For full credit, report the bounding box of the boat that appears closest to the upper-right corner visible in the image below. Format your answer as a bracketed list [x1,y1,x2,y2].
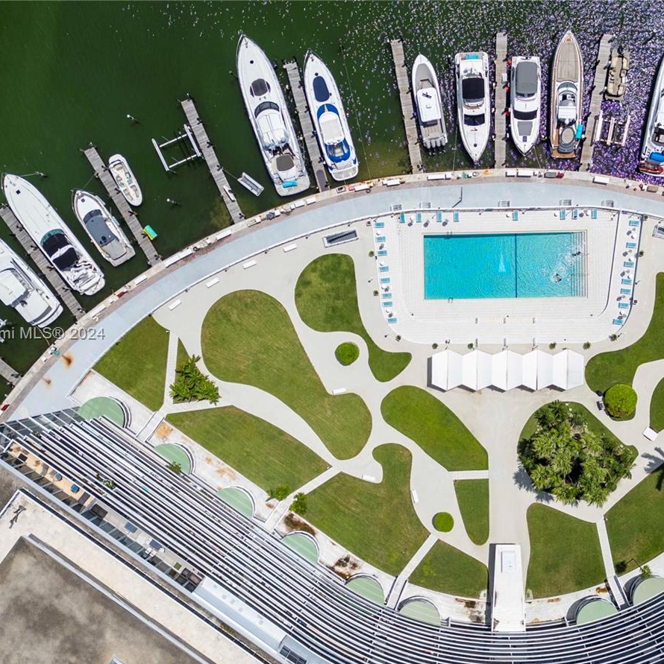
[605,47,630,103]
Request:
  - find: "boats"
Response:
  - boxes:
[605,47,630,103]
[508,57,541,155]
[111,153,146,211]
[551,29,584,161]
[238,170,264,196]
[412,54,445,151]
[0,242,64,329]
[0,174,111,301]
[235,33,308,202]
[642,64,664,183]
[73,190,137,269]
[303,49,360,186]
[455,54,490,161]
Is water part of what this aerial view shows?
Yes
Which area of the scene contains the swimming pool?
right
